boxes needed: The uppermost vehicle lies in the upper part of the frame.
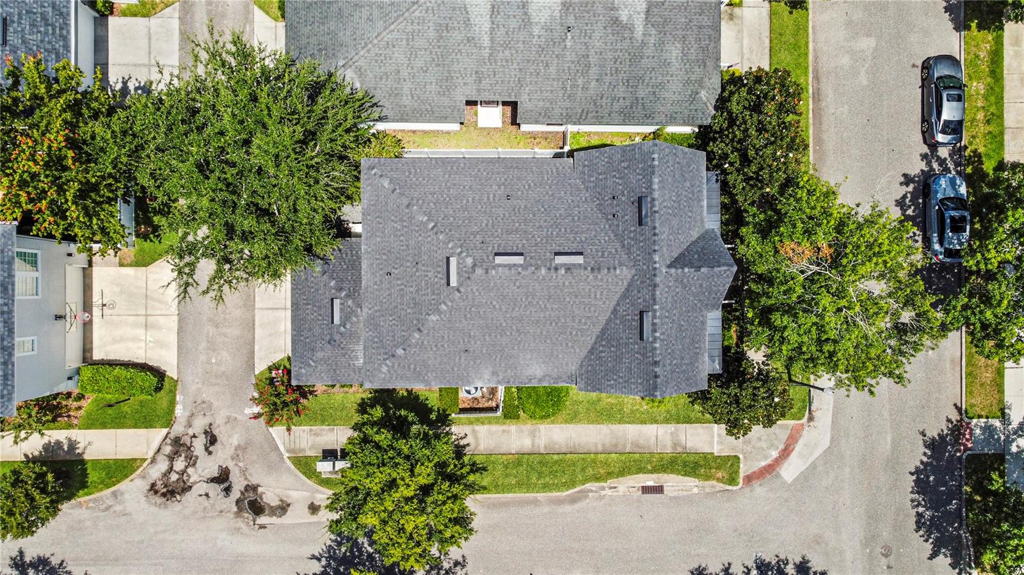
[921,56,971,147]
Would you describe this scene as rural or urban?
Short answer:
urban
